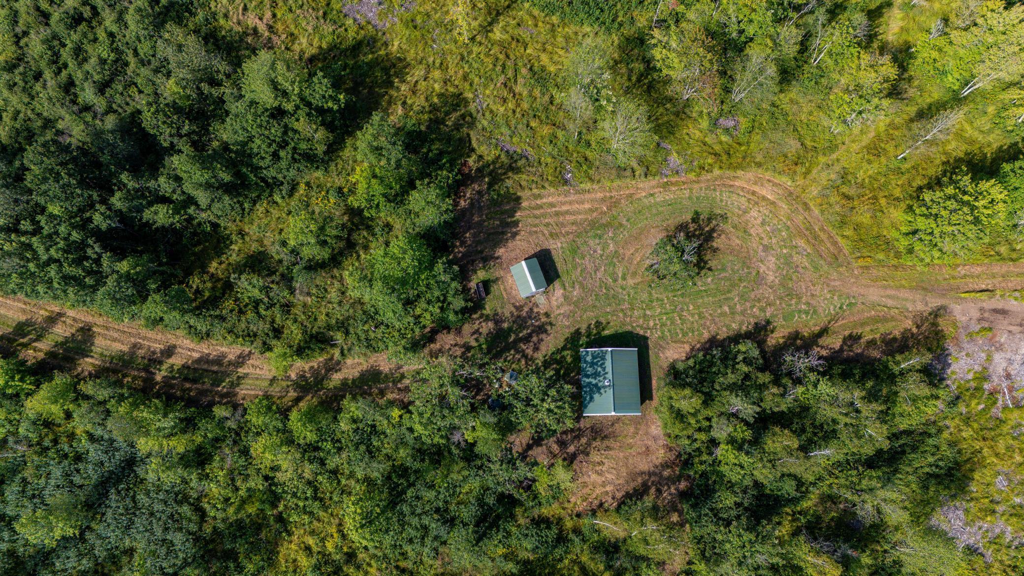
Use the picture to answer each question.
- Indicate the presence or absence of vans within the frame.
No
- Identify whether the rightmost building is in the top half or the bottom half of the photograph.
bottom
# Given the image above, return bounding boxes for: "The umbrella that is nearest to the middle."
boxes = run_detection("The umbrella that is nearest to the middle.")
[504,370,518,385]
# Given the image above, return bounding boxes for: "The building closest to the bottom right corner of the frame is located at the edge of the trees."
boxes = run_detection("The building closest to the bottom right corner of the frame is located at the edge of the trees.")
[580,348,642,418]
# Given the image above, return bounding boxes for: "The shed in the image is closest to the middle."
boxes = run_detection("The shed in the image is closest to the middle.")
[510,258,548,299]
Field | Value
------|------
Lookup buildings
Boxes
[580,348,642,418]
[510,258,548,299]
